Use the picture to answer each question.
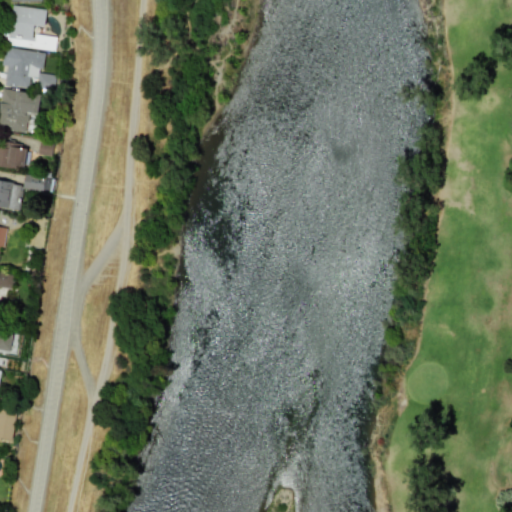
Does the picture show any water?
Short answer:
Yes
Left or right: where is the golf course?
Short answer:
right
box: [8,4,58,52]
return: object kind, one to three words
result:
house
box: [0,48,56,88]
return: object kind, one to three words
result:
house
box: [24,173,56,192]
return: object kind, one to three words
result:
shed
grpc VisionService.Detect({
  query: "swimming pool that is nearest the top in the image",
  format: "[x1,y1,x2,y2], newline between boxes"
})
[48,16,62,36]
